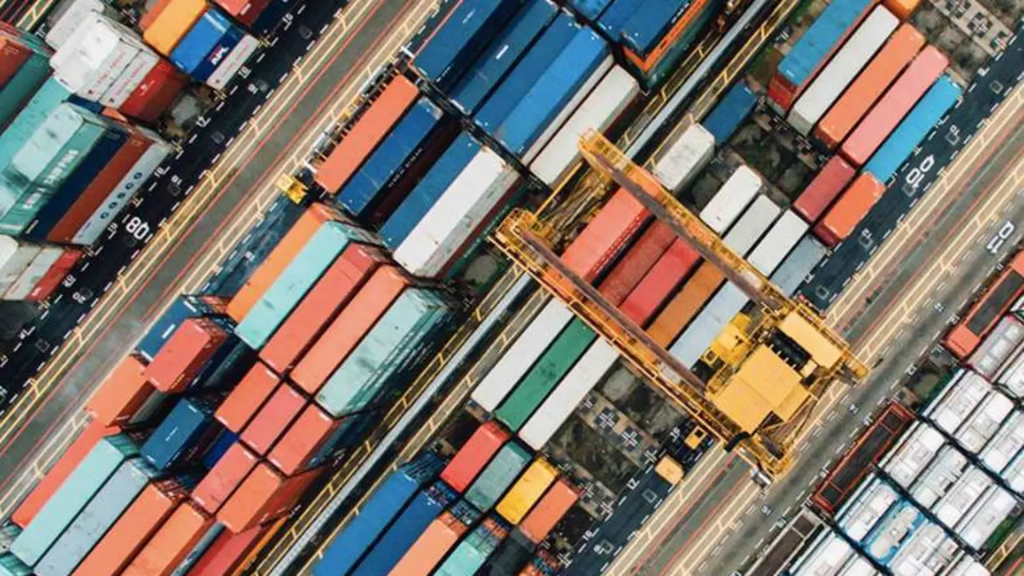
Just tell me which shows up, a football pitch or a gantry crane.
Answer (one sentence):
The image shows a gantry crane.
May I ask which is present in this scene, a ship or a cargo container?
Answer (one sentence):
It is a cargo container that can be seen here.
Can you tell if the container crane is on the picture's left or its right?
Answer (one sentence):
The container crane sits on the right side.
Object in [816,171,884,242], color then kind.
orange shipping container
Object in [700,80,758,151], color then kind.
blue shipping container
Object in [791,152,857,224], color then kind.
red shipping container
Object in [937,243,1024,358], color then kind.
red shipping container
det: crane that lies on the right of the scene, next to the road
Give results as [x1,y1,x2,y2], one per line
[487,121,872,502]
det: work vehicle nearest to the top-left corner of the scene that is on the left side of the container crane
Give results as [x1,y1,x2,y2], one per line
[278,153,327,199]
